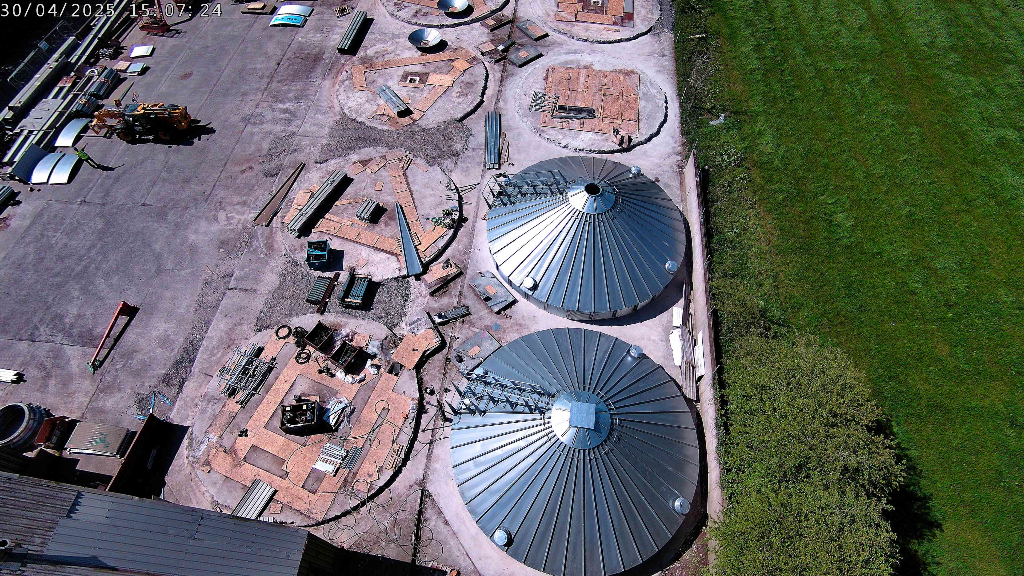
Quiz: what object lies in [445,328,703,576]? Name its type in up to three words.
silo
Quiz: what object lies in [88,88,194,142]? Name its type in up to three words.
work vehicle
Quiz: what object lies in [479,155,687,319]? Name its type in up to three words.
silo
